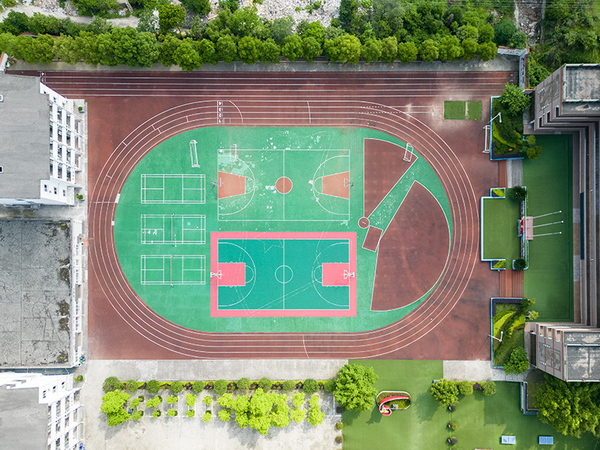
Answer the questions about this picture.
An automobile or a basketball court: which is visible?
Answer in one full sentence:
The one in the frame is a basketball court.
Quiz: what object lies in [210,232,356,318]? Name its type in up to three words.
basketball court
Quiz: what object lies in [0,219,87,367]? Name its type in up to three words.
building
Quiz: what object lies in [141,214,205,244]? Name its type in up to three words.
sports court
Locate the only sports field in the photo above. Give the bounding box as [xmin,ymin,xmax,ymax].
[114,127,452,333]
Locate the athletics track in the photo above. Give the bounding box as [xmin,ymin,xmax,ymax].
[24,71,519,359]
